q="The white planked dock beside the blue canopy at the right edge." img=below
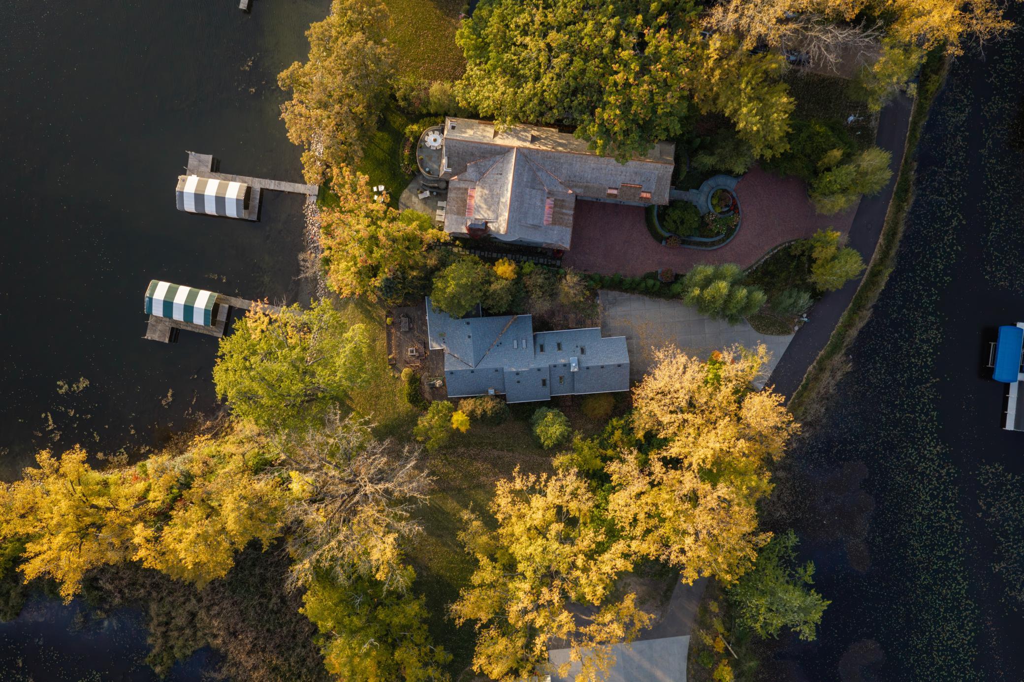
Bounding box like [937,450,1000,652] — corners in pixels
[1002,372,1024,430]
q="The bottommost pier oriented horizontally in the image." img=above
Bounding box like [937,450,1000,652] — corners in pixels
[141,294,305,343]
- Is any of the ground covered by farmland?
No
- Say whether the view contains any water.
Yes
